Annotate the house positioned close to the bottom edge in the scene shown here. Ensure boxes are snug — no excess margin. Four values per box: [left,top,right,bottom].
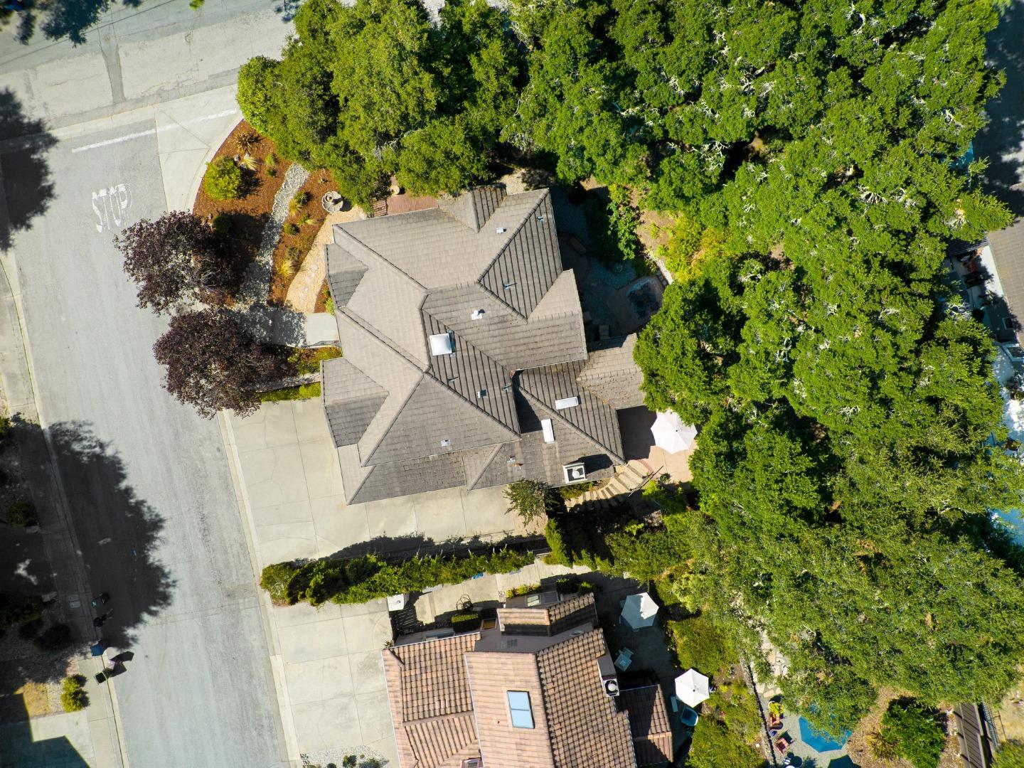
[381,578,674,768]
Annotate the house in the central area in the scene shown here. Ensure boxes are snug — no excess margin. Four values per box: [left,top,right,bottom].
[320,183,649,507]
